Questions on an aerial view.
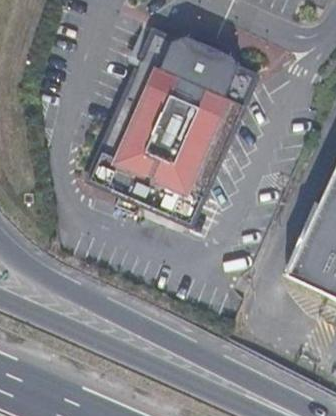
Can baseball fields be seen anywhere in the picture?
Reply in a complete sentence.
No, the frame has no baseball field in it.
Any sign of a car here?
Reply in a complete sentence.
Yes, I can see a car in this picture.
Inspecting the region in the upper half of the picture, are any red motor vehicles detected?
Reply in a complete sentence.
No, there's no red motor vehicle to be seen in the upper half of the picture.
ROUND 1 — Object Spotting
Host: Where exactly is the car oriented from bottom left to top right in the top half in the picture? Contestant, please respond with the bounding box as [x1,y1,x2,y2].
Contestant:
[145,0,166,16]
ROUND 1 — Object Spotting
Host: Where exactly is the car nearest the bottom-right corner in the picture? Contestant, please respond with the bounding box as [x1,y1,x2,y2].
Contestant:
[308,403,329,416]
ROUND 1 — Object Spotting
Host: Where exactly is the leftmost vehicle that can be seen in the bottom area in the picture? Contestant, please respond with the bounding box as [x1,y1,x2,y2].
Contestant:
[158,268,170,288]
